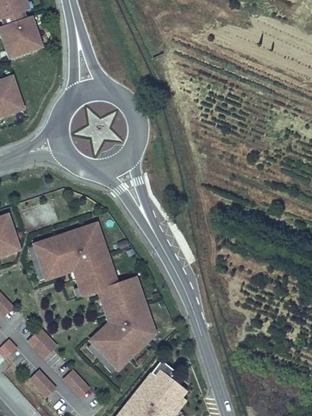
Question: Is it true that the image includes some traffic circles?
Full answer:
Yes, the photo shows a traffic circle.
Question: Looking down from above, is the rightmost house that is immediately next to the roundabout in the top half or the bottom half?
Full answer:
The bottom half of the photo is where the rightmost house that is immediately next to the roundabout is.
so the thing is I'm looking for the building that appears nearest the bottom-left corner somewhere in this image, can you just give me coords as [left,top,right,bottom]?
[29,369,56,398]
